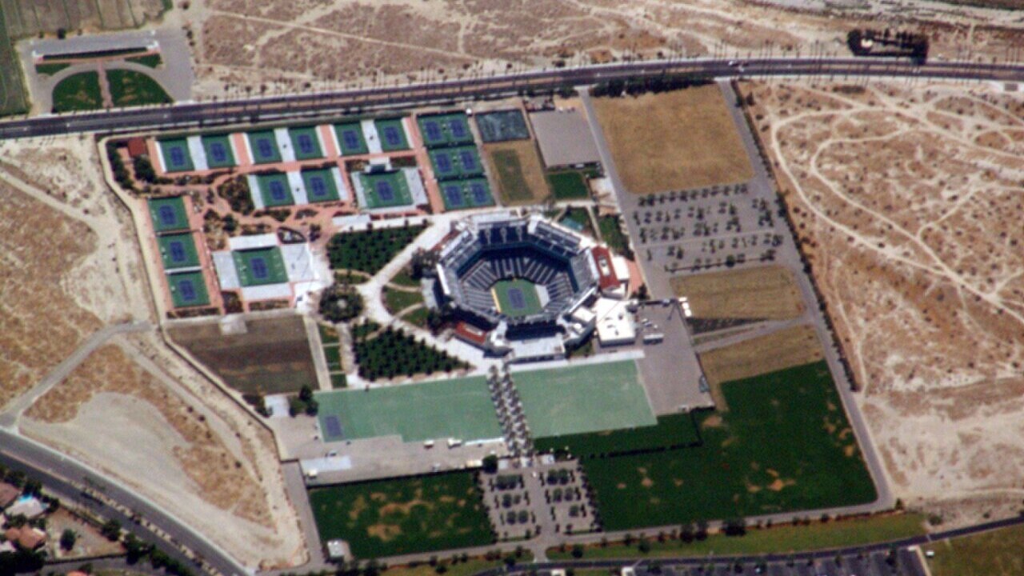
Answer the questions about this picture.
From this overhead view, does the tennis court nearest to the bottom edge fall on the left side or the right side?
left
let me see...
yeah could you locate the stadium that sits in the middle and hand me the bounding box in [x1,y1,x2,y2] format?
[426,214,601,365]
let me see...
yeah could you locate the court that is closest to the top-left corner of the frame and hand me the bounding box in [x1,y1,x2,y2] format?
[160,135,194,172]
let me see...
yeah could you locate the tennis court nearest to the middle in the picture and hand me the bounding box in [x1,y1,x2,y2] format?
[493,277,551,315]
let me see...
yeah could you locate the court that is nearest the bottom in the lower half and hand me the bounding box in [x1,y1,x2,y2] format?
[319,412,345,440]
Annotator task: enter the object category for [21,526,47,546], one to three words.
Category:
house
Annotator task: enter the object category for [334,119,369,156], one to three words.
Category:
tennis court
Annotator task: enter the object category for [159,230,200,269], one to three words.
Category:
tennis court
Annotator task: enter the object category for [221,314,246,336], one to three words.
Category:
building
